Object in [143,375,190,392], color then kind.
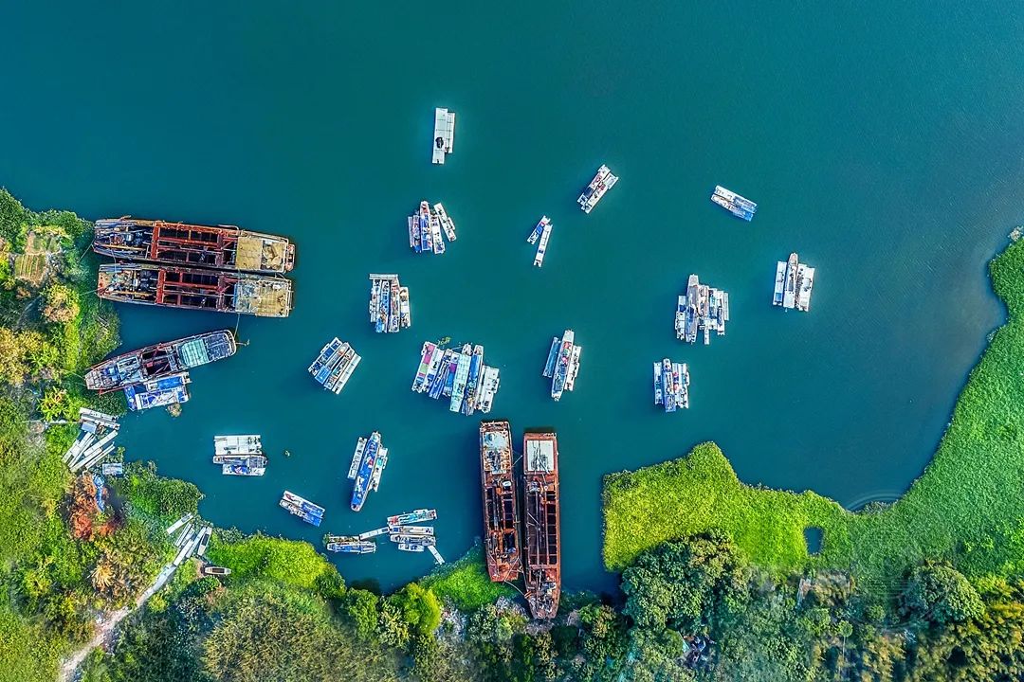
blue boat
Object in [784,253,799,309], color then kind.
white boat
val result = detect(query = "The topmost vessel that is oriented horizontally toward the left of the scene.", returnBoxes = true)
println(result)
[91,212,297,275]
